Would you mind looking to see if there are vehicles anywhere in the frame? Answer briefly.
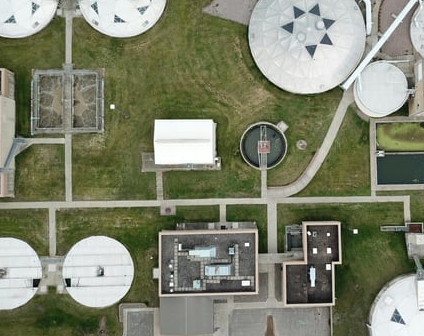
No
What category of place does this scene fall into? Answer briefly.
industrial area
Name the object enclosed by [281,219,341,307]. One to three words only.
building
